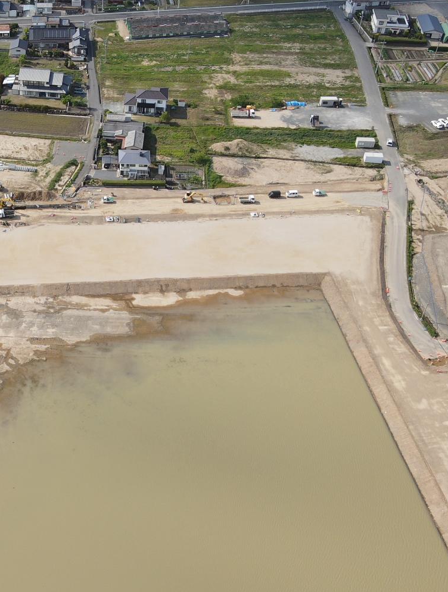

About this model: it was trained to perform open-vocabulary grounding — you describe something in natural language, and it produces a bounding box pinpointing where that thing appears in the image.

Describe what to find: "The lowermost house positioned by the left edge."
[8,65,73,100]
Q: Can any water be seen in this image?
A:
Yes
